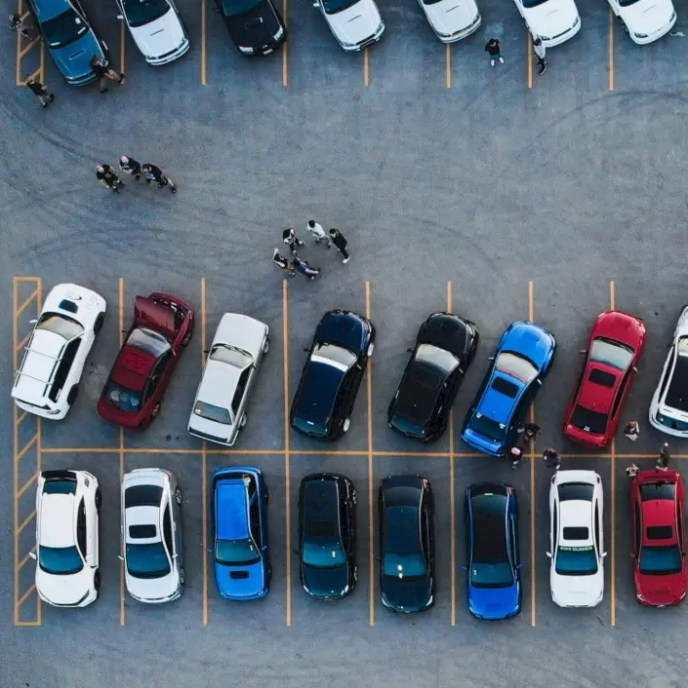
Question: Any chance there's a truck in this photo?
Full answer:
No, the scene contains no truck.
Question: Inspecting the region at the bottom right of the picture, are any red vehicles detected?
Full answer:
Yes, there is a red vehicle at the bottom right of the picture.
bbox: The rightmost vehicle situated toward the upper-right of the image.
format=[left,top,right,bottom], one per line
[606,0,674,49]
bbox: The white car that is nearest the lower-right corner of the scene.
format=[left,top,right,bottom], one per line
[544,471,611,609]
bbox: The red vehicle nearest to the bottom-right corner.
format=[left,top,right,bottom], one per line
[628,471,688,608]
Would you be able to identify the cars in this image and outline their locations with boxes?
[109,0,189,72]
[29,472,103,609]
[116,469,185,605]
[292,309,370,444]
[390,311,474,445]
[412,0,478,49]
[463,319,551,460]
[98,293,193,432]
[187,310,271,449]
[460,485,526,622]
[628,471,688,608]
[309,0,378,58]
[514,0,582,52]
[10,0,100,92]
[293,474,358,600]
[563,309,644,451]
[544,471,611,609]
[651,307,688,441]
[373,477,439,614]
[207,467,271,602]
[207,0,280,61]
[13,283,106,423]
[606,0,674,49]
